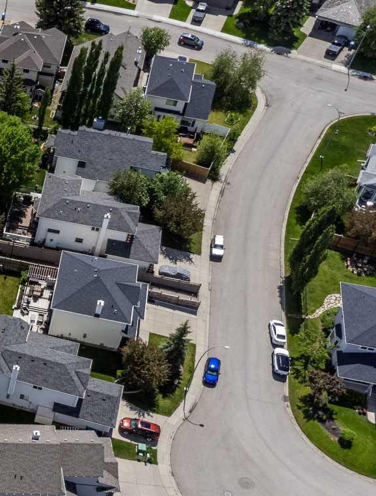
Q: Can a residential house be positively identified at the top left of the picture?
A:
Yes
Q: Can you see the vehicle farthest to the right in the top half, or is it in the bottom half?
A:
top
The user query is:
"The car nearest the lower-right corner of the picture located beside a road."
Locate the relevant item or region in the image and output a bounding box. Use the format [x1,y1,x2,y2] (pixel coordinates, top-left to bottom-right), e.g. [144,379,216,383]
[274,347,294,377]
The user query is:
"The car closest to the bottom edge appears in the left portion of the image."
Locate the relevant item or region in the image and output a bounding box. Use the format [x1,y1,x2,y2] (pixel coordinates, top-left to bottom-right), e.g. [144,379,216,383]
[120,415,162,438]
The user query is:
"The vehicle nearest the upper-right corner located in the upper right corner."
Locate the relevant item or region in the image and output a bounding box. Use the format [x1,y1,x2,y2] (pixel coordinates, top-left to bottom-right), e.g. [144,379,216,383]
[324,35,345,54]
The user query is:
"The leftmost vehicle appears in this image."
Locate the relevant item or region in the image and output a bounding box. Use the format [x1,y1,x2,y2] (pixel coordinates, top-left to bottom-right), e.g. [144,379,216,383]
[84,15,111,32]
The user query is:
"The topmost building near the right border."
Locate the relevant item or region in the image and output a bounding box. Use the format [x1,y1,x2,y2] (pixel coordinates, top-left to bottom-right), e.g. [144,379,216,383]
[312,0,367,39]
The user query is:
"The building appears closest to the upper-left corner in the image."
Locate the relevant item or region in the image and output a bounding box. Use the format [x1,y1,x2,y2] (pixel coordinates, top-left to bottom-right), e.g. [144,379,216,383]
[0,14,67,94]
